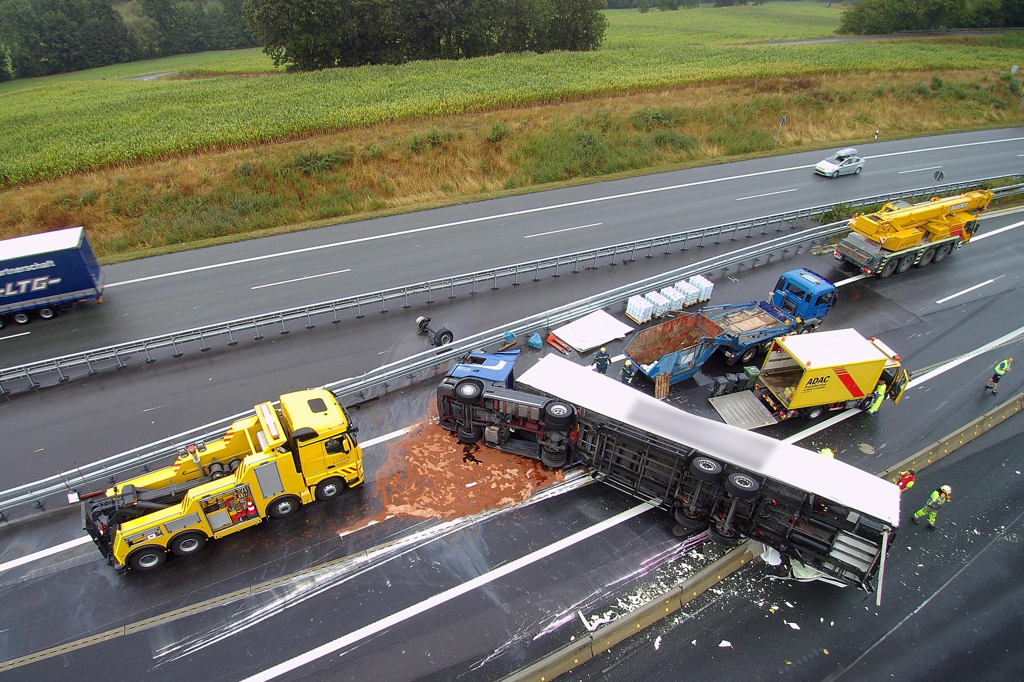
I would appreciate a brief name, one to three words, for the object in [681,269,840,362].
vehicle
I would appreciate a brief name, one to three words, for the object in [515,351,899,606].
trailer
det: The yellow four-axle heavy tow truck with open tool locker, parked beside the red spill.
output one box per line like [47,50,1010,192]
[89,392,366,576]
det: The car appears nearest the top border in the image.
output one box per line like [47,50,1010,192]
[814,149,867,177]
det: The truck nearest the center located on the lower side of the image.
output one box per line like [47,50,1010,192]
[431,354,584,465]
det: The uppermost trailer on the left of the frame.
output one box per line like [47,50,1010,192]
[0,228,109,330]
